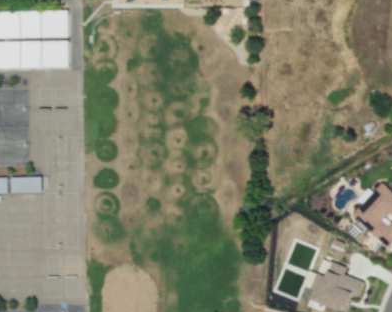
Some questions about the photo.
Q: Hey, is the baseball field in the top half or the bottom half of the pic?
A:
bottom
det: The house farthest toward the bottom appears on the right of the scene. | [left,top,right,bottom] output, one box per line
[307,261,367,312]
